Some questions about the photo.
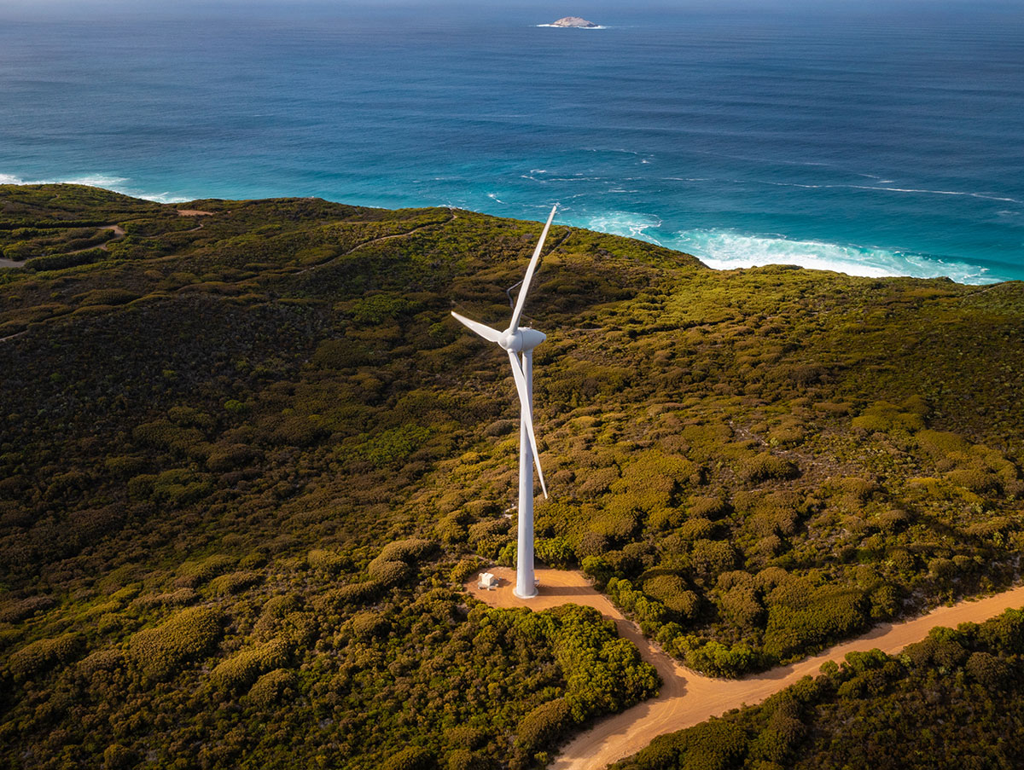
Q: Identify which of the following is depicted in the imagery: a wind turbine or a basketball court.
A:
wind turbine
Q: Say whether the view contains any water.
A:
Yes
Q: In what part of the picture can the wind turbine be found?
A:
center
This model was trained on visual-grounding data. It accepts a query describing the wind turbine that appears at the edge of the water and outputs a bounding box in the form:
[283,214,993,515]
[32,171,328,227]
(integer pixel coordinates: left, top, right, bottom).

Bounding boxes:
[451,202,552,597]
